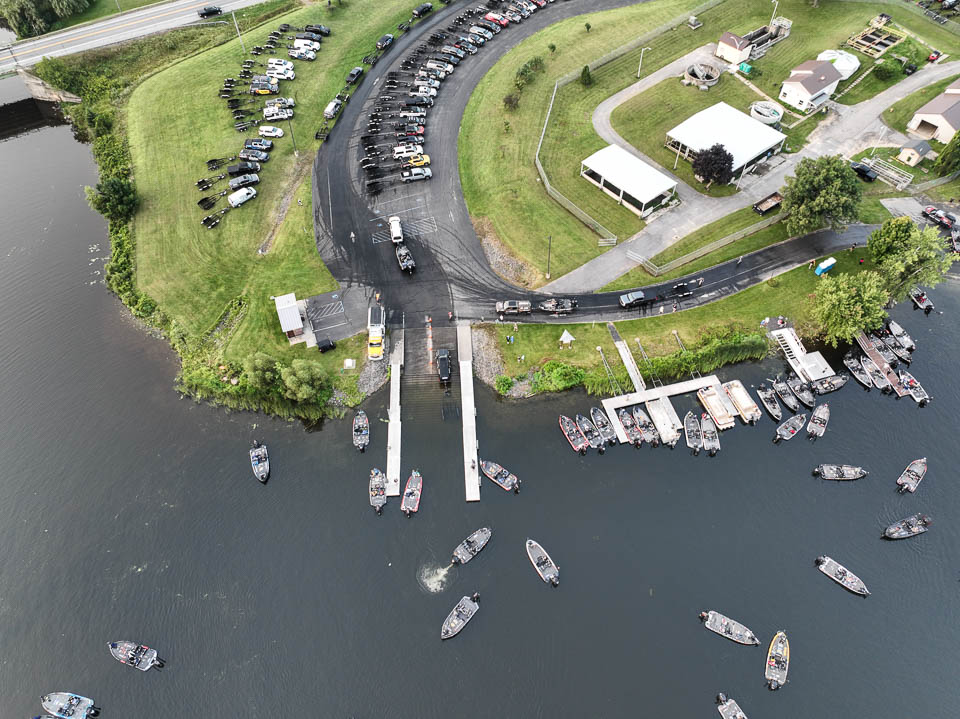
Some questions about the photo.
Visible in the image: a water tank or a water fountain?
water tank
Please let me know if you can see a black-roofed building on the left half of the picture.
No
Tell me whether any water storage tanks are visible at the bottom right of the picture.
No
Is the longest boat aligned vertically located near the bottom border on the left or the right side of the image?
right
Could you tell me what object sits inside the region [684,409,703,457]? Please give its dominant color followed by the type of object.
gray boat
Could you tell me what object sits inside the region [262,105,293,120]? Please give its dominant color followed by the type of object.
white vehicle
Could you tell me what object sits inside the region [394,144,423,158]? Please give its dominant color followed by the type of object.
white car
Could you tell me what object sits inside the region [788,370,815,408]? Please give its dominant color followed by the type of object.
gray boat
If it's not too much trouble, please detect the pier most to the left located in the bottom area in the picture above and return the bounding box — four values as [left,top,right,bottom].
[385,367,401,497]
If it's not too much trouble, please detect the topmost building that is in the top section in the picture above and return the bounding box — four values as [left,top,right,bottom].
[716,28,757,64]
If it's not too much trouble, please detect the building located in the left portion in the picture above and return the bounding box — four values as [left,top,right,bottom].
[276,294,305,340]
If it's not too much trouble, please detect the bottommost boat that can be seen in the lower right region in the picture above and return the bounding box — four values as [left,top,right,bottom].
[717,690,744,719]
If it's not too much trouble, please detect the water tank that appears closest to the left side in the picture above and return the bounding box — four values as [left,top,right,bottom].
[684,61,723,90]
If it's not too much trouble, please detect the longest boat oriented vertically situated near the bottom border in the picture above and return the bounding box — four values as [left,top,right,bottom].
[767,629,789,688]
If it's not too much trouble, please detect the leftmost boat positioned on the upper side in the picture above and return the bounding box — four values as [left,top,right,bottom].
[397,240,412,275]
